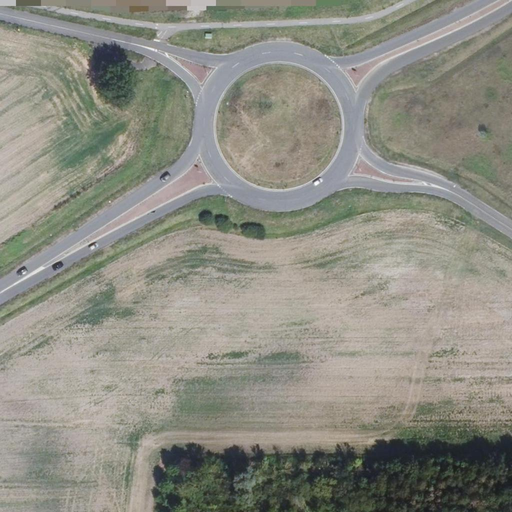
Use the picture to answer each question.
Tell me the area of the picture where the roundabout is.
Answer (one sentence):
The roundabout is located in the top region of the scene.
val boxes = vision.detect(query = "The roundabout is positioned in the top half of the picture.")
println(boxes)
[76,0,512,249]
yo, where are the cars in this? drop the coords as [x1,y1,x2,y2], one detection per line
[314,178,324,187]
[161,174,171,182]
[89,243,100,251]
[18,268,28,276]
[52,262,64,271]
